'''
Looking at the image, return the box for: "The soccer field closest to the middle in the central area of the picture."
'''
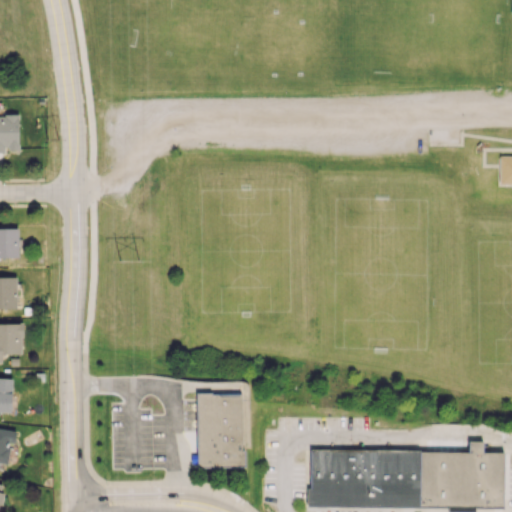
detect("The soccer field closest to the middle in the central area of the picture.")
[201,188,292,314]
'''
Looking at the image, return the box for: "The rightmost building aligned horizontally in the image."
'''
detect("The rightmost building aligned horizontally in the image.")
[307,442,506,512]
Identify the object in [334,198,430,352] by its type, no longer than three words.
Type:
soccer field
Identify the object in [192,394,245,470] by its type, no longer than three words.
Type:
building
